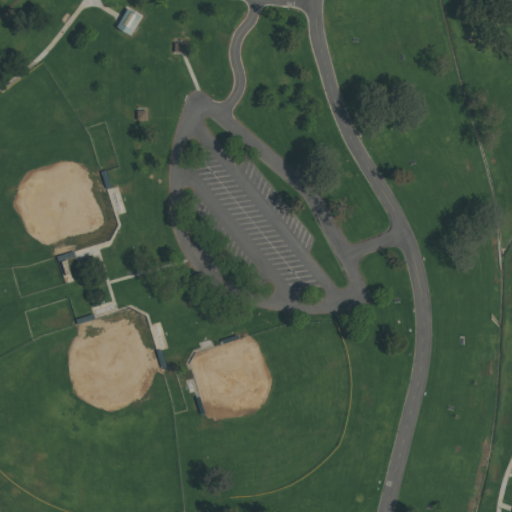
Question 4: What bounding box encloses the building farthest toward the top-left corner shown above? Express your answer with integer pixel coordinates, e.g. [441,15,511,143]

[116,6,143,36]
